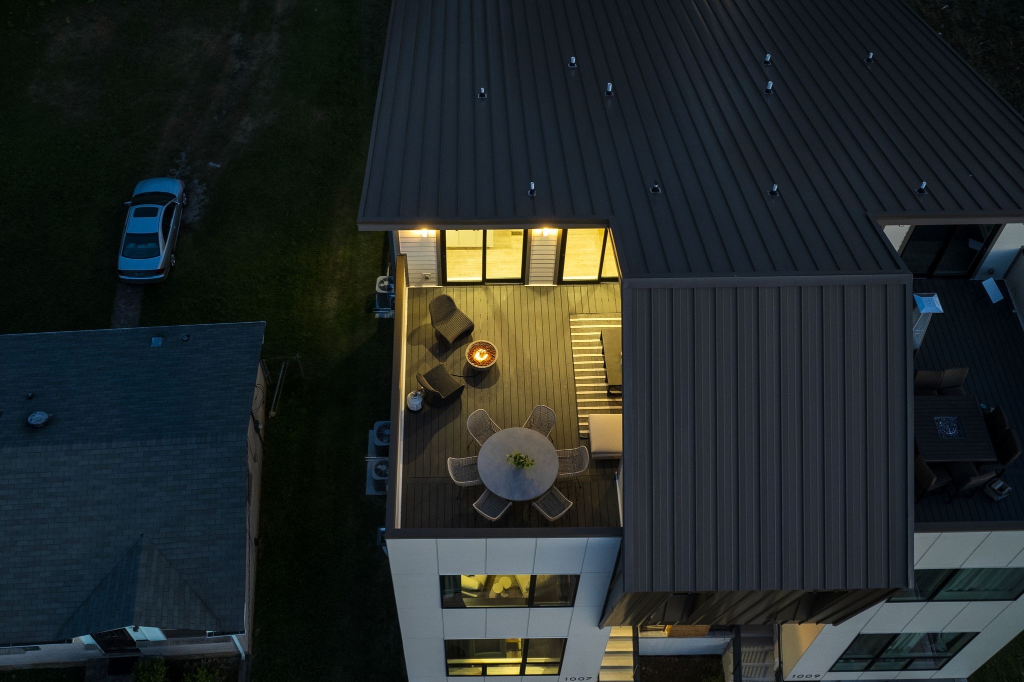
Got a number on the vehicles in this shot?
1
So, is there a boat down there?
No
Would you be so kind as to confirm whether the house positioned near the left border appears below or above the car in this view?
below it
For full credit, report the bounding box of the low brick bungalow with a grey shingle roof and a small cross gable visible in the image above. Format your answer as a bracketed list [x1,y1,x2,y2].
[0,321,267,682]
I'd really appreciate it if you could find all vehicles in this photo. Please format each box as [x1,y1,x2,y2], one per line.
[119,181,188,288]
